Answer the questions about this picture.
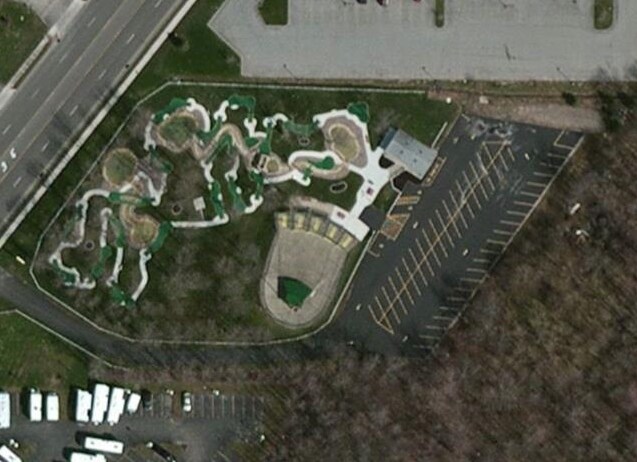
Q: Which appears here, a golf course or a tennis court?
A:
golf course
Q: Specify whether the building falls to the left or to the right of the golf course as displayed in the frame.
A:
on its right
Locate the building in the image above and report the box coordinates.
[377,124,438,177]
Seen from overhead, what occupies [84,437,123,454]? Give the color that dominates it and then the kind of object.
white camper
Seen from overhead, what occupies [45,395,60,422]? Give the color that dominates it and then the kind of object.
white camper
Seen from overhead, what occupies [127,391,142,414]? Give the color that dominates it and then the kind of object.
white vehicle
